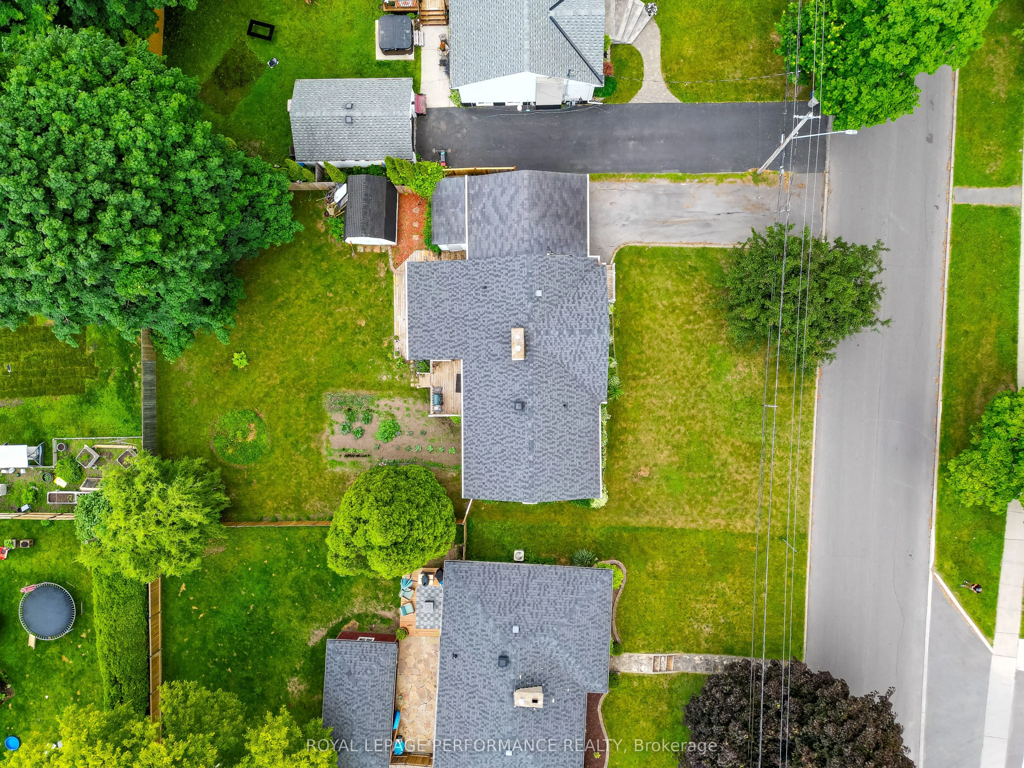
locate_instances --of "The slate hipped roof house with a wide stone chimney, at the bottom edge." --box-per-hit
[432,557,613,768]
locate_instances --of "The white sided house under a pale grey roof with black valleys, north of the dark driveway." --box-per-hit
[448,0,608,111]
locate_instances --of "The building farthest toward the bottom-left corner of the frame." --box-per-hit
[324,631,400,768]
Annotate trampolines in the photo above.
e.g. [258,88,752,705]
[18,583,80,640]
